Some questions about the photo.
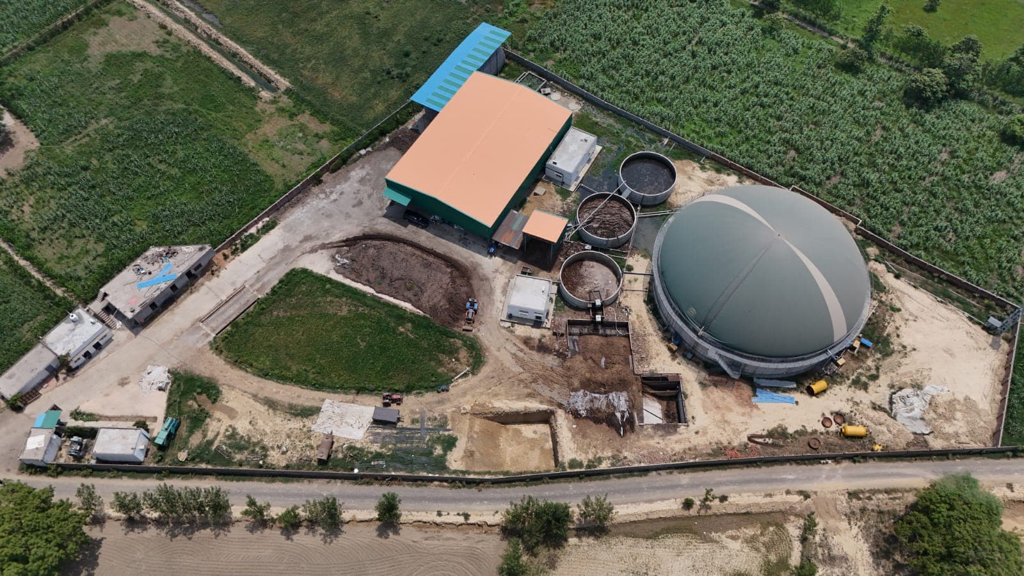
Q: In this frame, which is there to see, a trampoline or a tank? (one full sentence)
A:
This aerial view contains a tank.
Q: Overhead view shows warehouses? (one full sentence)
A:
Yes, there's a warehouse here.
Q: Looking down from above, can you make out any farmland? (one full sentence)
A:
Yes, there is farmland in the image.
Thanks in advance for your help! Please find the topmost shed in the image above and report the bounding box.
[410,23,511,124]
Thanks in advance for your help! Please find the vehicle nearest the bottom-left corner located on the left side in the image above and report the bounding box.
[62,431,83,464]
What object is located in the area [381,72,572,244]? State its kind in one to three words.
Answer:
warehouse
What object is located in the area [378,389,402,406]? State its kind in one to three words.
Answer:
work vehicle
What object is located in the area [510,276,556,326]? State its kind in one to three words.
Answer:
building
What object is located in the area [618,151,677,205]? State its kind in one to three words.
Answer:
storage tank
